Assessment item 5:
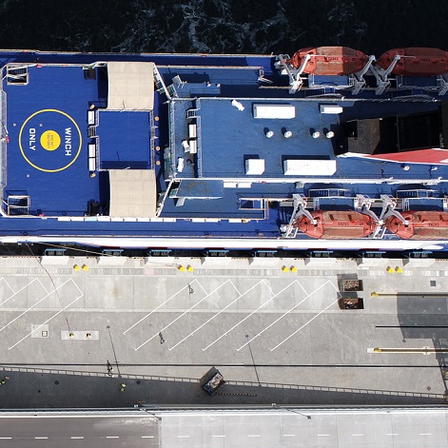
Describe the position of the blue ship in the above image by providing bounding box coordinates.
[0,50,448,251]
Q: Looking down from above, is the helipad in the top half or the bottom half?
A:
top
